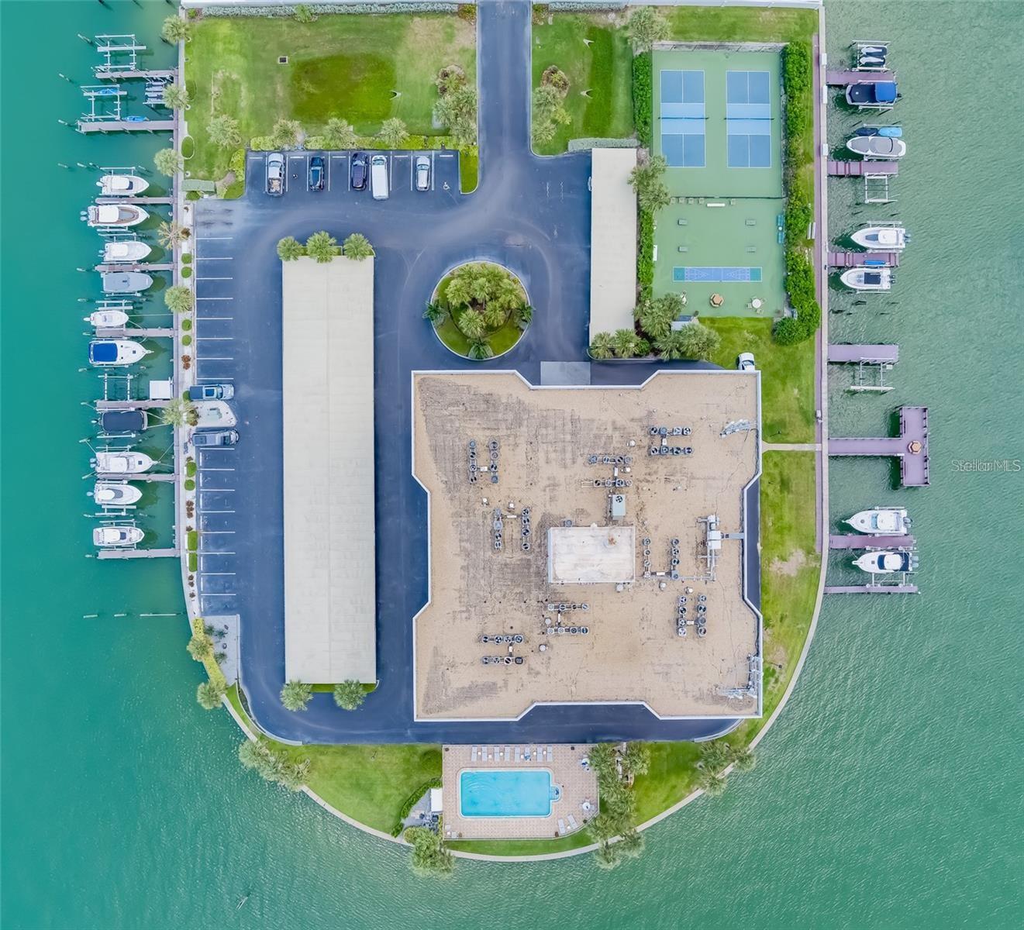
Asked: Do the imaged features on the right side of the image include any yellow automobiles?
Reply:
No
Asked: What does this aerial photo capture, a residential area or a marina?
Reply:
marina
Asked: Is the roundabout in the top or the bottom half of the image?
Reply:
top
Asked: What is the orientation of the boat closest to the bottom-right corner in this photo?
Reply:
from side to side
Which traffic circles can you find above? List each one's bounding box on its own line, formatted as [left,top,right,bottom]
[431,260,531,360]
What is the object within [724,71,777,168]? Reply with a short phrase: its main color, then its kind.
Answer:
blue sports court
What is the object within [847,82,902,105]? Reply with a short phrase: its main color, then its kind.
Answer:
blue boat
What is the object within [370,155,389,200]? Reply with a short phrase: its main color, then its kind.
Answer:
white vehicle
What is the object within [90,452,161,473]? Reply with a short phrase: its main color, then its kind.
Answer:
white boat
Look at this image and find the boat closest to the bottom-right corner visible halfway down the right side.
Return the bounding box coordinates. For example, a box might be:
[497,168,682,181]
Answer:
[852,550,918,573]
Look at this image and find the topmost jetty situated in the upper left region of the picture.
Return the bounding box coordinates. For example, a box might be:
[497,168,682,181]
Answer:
[96,68,178,84]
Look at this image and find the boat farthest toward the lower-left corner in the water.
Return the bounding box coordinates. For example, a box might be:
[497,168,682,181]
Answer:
[93,526,144,546]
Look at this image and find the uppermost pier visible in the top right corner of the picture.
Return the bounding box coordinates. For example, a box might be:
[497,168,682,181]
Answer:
[828,69,897,90]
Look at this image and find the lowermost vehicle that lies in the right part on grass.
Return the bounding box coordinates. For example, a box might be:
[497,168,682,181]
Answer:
[737,353,755,371]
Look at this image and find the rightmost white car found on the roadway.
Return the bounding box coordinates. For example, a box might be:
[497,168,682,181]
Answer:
[415,156,432,191]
